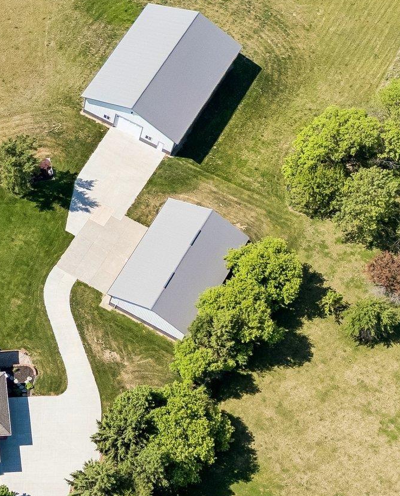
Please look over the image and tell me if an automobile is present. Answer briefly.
No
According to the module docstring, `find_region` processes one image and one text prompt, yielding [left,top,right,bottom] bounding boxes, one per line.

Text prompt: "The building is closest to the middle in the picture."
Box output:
[107,197,249,344]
